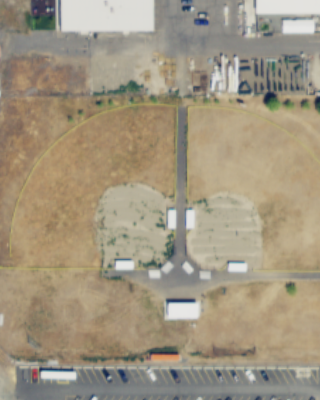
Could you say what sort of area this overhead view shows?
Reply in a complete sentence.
It's a sports ground.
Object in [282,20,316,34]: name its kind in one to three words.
shed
